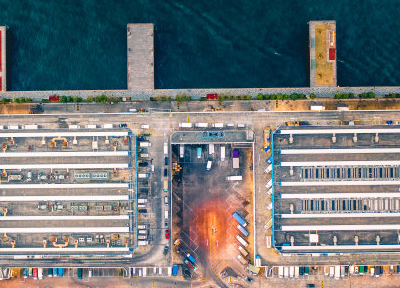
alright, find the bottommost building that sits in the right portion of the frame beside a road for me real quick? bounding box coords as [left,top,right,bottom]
[272,125,400,256]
